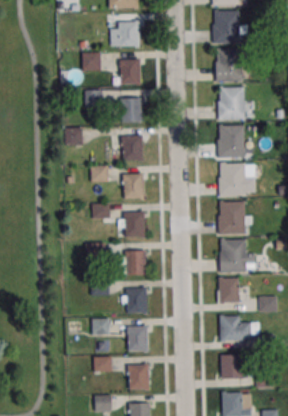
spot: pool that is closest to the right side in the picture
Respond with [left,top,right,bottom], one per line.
[258,136,274,152]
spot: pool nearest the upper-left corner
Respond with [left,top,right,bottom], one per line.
[66,68,84,86]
